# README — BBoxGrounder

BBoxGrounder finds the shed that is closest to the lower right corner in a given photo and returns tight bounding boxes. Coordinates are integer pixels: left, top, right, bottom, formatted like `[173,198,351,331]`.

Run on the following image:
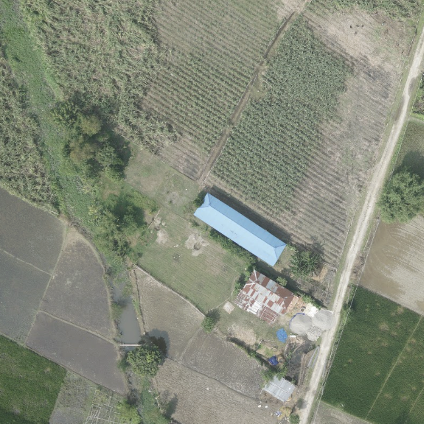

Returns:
[263,375,295,401]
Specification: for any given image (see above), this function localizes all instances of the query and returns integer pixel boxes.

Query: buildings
[263,375,295,401]
[194,193,285,266]
[234,271,293,324]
